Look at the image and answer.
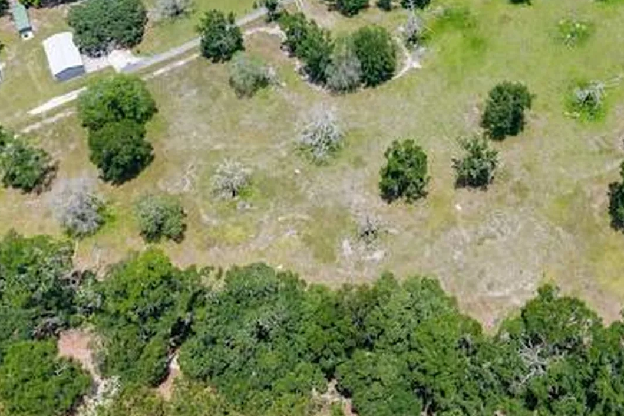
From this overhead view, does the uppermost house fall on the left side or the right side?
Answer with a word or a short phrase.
left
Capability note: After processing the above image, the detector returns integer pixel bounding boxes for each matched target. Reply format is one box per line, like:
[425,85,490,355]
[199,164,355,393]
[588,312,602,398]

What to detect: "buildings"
[11,0,38,45]
[45,30,85,82]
